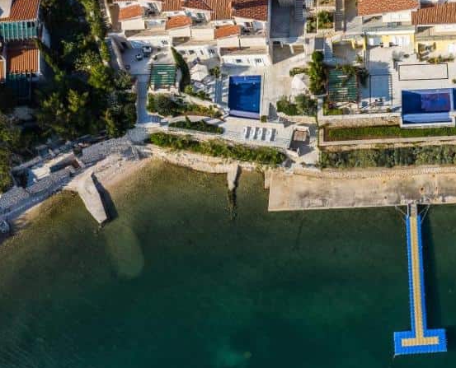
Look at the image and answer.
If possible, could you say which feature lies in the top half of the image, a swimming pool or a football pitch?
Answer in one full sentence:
It is a swimming pool that can be seen in the top half of the image.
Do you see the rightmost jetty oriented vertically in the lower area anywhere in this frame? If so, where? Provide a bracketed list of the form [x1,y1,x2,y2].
[396,200,449,352]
